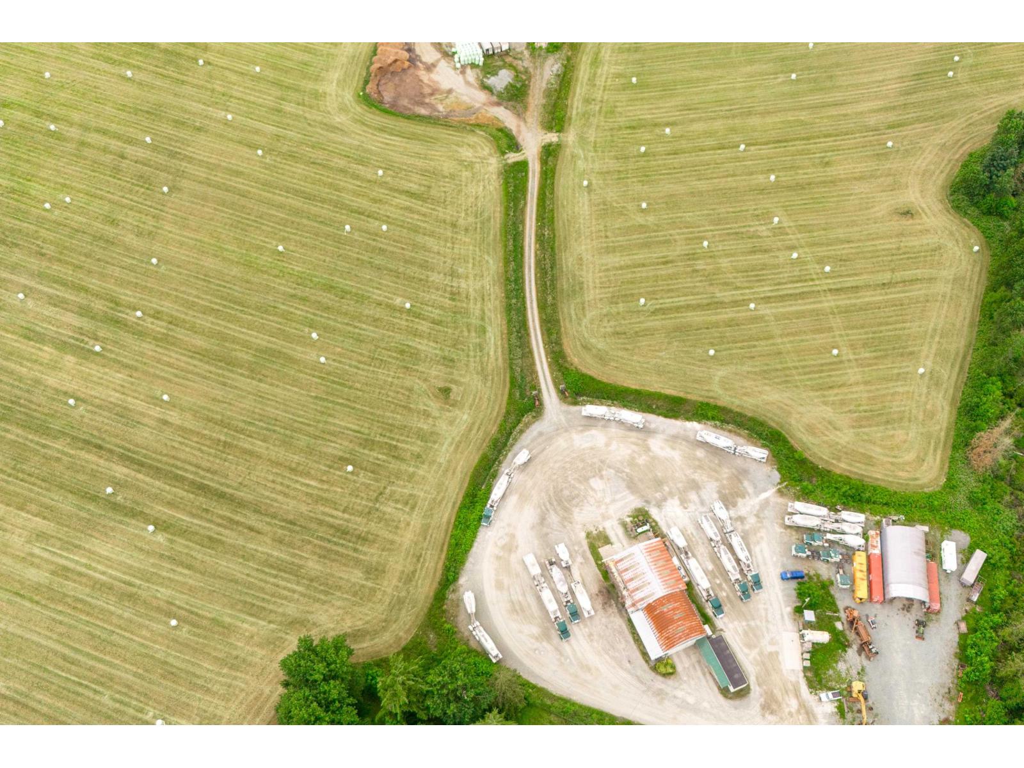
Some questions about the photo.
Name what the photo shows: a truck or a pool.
truck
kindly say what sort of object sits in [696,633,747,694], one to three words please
building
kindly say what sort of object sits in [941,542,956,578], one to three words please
camper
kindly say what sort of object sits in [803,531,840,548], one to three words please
vehicle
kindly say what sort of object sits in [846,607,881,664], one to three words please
truck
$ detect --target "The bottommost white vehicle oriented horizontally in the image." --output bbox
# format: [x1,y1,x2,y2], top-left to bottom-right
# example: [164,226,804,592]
[818,690,843,703]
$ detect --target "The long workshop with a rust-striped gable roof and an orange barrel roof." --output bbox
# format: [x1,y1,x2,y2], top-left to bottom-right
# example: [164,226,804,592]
[603,537,706,666]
